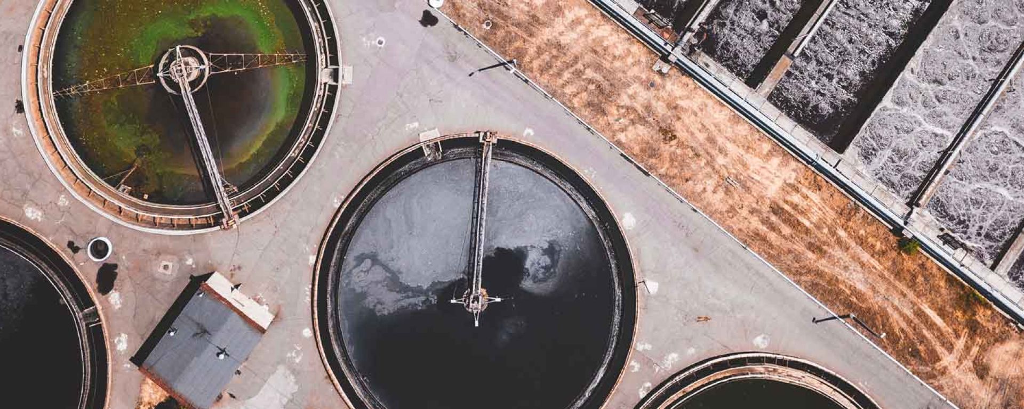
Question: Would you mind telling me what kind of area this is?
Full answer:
The picture captures an industrial area.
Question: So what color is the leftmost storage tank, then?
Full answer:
From above, the leftmost storage tank appears black.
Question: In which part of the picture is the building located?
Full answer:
You can find the building in the bottom left area of the picture.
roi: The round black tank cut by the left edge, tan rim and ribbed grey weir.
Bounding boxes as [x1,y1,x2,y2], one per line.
[0,216,113,409]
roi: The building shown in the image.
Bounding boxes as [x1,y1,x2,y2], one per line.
[135,273,276,409]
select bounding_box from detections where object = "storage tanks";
[638,351,879,409]
[0,216,113,409]
[21,0,341,233]
[312,132,638,409]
